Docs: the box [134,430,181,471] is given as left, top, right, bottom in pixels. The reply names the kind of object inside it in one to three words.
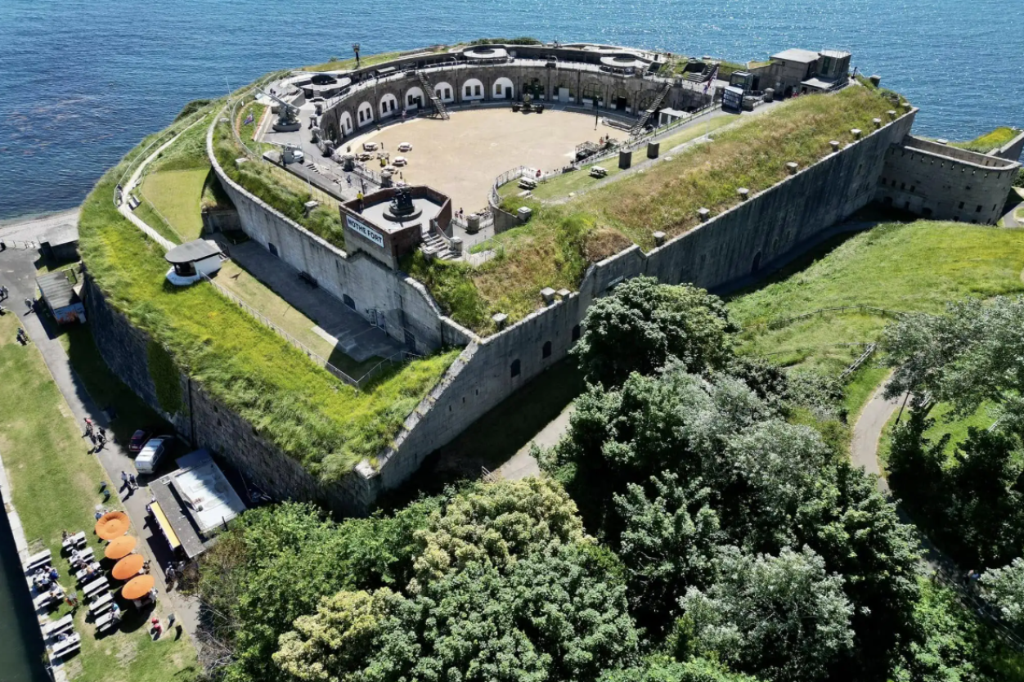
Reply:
van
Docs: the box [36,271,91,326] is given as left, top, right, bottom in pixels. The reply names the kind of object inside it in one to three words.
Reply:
shed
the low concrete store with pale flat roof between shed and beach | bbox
[38,225,80,265]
